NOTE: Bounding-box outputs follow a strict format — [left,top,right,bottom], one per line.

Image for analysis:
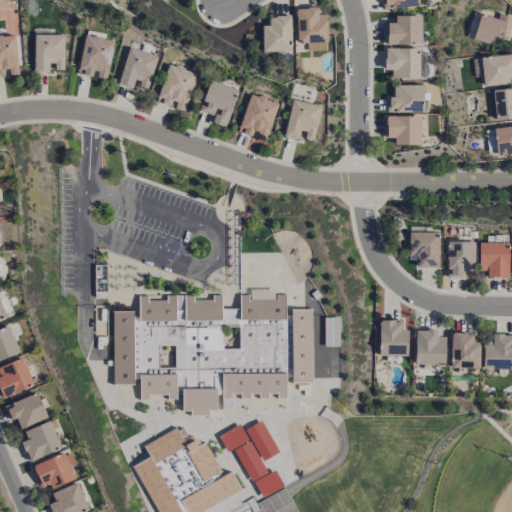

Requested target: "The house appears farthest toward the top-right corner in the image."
[470,10,512,52]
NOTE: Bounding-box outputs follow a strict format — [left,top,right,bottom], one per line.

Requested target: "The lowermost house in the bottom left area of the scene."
[50,482,92,512]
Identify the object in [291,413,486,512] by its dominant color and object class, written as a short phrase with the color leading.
green sports field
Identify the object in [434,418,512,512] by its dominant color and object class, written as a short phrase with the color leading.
green baseball field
